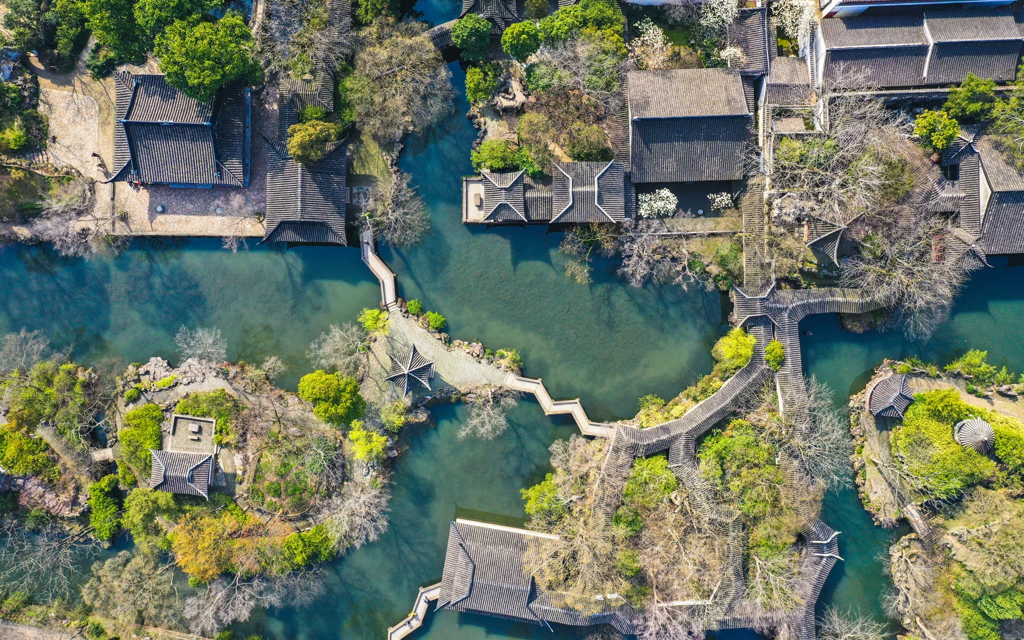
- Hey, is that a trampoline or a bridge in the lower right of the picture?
bridge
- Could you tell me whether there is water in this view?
Yes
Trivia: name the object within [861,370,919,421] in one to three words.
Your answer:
building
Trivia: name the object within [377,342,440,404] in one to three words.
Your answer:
building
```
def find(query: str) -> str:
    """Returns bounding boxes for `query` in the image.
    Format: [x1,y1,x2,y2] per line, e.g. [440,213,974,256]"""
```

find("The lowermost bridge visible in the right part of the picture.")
[896,501,945,541]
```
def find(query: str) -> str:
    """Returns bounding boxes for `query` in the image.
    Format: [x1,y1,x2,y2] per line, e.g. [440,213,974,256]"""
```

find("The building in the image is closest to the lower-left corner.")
[141,446,223,501]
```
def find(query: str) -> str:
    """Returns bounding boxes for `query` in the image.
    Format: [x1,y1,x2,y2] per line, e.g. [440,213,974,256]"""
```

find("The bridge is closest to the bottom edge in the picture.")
[385,582,439,640]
